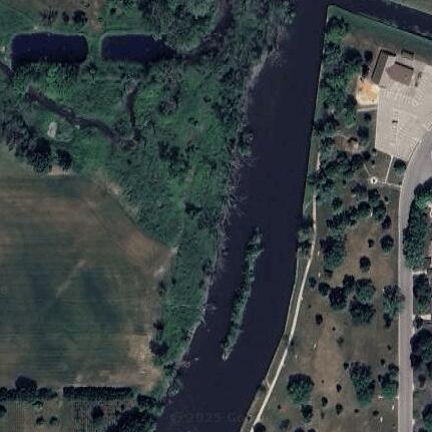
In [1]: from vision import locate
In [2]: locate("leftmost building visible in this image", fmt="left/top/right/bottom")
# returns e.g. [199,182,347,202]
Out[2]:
[370,48,391,81]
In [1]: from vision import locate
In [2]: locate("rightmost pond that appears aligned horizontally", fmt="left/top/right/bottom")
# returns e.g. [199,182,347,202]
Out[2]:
[101,35,183,62]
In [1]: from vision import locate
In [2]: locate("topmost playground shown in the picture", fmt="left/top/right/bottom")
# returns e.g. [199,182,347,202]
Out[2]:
[357,79,378,105]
